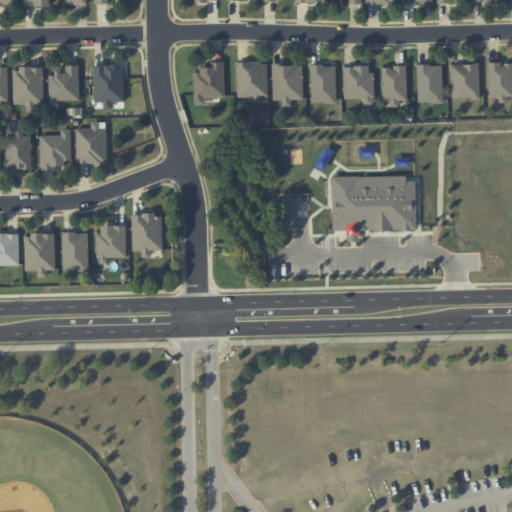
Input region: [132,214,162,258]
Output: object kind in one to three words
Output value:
house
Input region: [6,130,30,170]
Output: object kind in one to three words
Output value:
house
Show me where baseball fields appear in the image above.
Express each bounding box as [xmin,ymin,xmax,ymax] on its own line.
[0,416,124,512]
